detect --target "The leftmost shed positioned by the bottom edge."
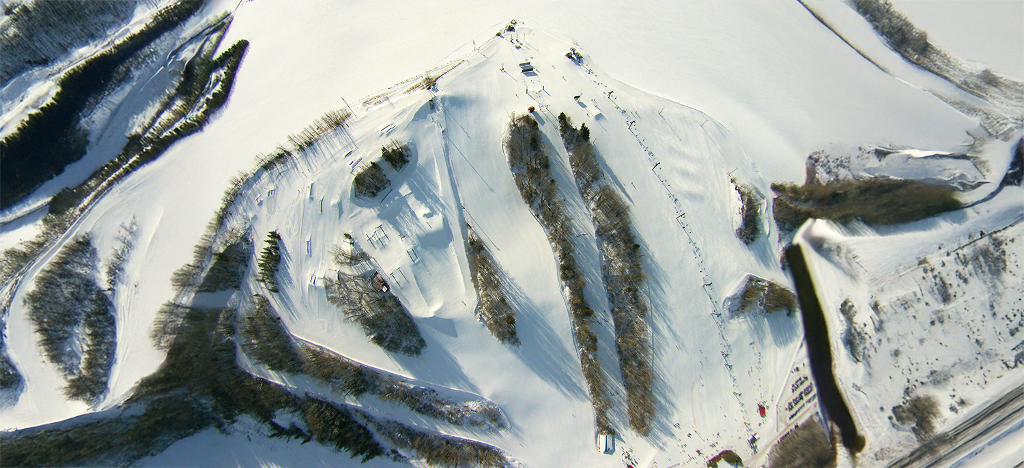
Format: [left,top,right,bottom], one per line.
[598,436,614,456]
